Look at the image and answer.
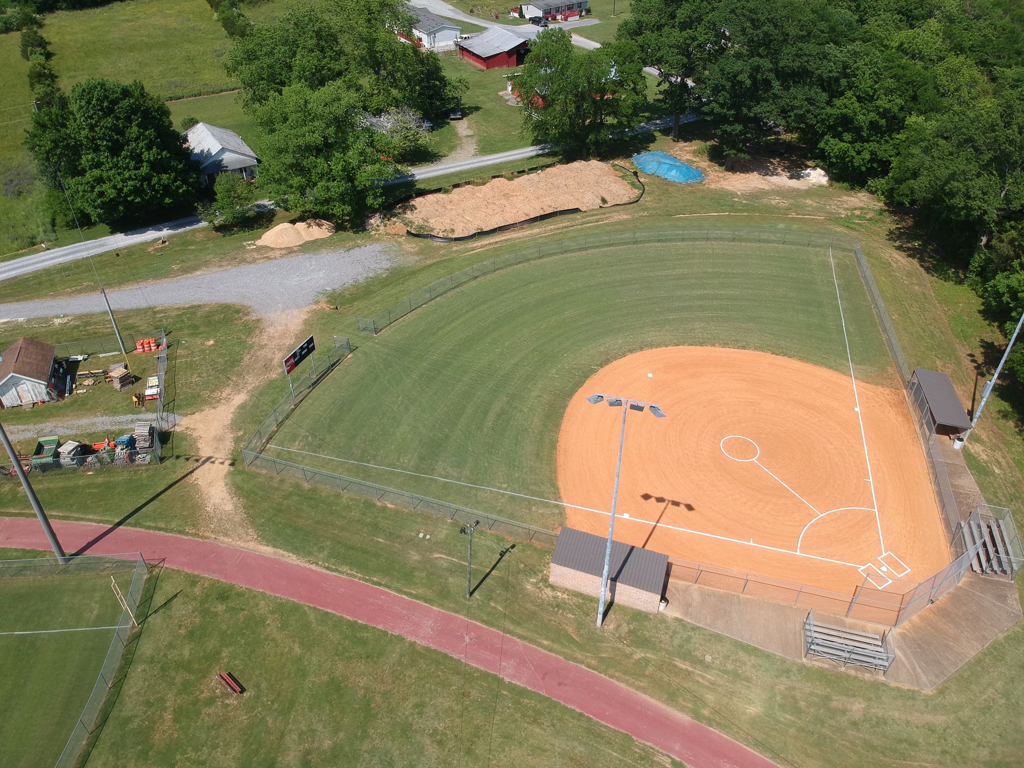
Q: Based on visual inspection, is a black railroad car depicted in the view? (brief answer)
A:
No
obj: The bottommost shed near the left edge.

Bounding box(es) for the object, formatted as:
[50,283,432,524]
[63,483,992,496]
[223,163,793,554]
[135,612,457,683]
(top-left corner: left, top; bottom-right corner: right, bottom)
[0,334,59,413]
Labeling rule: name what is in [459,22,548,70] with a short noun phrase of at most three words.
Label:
barn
